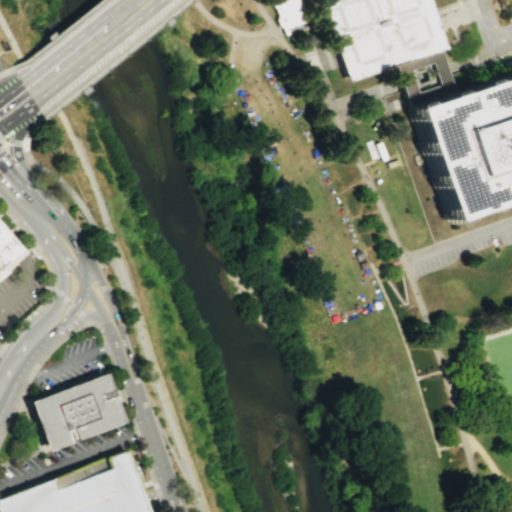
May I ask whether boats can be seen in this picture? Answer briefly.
No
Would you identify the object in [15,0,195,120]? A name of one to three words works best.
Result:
bridge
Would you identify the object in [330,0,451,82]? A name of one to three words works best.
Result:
building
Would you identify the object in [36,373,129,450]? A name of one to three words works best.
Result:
building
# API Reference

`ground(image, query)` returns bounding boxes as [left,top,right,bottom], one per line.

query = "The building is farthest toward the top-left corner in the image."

[0,217,32,284]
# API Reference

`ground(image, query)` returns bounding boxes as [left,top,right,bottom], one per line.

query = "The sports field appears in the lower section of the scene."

[486,334,512,399]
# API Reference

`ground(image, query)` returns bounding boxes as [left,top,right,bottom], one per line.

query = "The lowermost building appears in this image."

[0,450,156,512]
